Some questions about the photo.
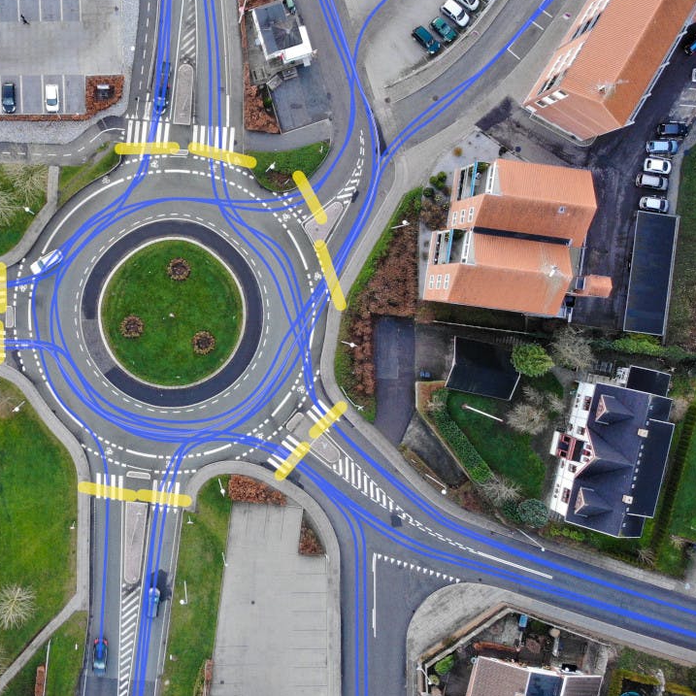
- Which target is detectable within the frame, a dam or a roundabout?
roundabout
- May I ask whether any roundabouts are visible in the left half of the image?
Yes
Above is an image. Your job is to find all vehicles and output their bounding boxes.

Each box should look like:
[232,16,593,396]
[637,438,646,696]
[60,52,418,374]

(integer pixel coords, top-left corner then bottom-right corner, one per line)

[638,196,669,212]
[43,84,59,113]
[690,68,696,84]
[0,82,17,114]
[457,0,480,13]
[681,32,696,56]
[147,587,161,619]
[641,157,672,173]
[31,249,63,274]
[635,173,669,190]
[439,0,470,28]
[656,121,688,138]
[152,86,168,116]
[411,24,441,56]
[429,15,458,44]
[645,139,678,155]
